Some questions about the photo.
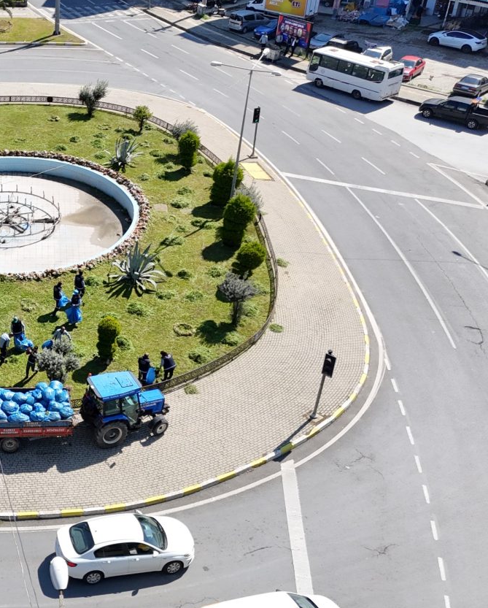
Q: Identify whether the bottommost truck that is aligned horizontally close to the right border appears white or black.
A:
black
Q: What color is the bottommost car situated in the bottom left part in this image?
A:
white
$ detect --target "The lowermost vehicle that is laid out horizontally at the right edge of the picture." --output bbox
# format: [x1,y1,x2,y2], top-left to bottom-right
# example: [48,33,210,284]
[415,92,488,129]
